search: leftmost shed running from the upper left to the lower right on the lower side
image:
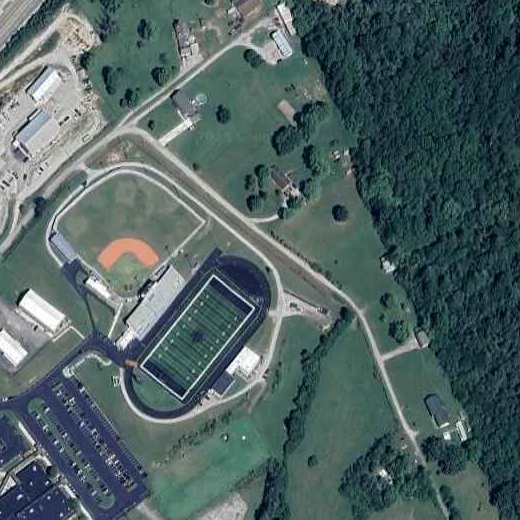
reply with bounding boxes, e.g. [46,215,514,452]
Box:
[0,329,27,368]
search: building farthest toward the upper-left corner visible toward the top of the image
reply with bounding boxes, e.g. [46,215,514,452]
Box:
[26,67,61,106]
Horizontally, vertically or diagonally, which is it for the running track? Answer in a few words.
diagonally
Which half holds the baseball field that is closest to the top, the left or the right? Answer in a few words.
left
